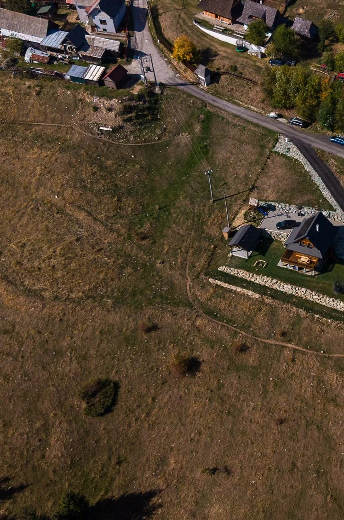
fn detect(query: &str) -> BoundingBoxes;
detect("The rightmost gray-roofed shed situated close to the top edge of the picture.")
[291,16,316,44]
